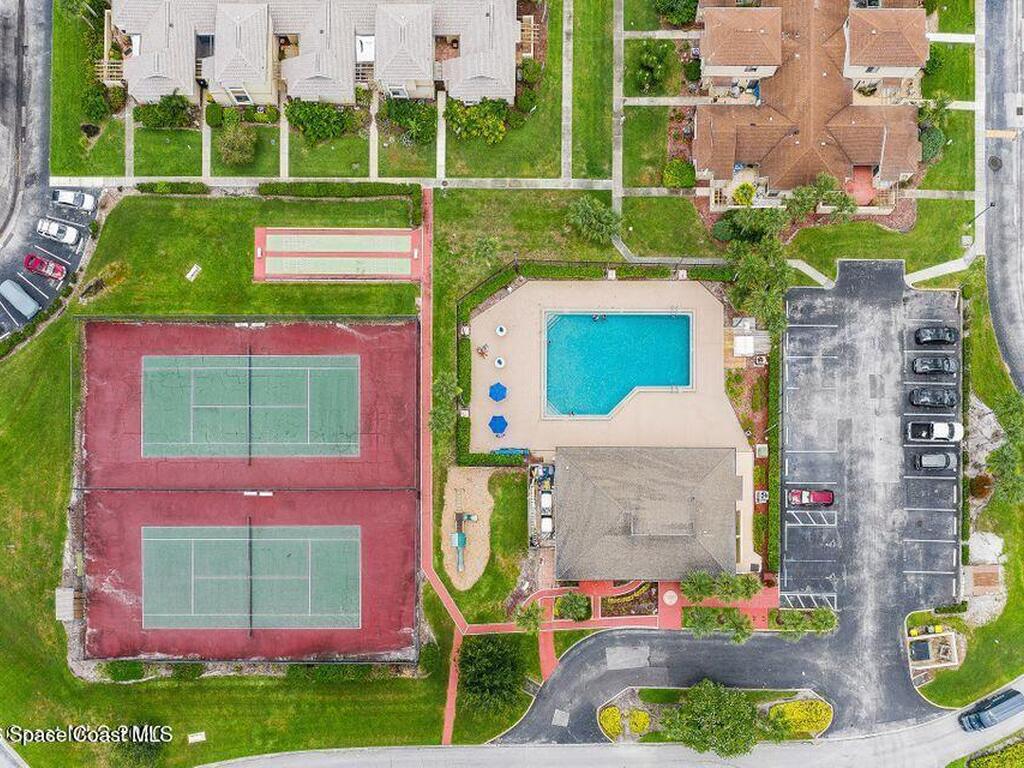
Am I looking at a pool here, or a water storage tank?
pool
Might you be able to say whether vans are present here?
Yes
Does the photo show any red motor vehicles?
Yes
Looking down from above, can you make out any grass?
Yes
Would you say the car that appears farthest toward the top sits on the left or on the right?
left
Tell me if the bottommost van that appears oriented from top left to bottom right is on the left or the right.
left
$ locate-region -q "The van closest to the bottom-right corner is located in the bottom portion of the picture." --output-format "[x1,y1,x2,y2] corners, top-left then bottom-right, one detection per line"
[960,688,1024,732]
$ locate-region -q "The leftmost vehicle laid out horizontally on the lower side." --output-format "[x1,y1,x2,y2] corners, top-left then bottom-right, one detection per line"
[786,488,832,507]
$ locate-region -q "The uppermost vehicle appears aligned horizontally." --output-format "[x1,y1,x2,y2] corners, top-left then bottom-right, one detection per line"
[52,190,99,213]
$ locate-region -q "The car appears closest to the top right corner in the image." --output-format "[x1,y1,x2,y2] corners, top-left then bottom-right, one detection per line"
[914,326,959,345]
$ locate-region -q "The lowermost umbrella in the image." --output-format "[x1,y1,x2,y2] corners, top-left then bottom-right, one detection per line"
[490,415,507,435]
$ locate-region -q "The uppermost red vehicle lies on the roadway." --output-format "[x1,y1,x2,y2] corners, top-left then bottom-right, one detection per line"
[23,253,70,280]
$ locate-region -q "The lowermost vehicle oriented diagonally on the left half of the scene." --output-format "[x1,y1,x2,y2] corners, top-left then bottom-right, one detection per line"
[0,276,42,322]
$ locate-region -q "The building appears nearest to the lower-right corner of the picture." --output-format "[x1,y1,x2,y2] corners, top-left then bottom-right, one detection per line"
[555,447,742,581]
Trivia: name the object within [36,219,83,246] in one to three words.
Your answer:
car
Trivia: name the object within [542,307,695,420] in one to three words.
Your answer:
swimming pool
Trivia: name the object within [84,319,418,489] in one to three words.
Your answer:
tennis court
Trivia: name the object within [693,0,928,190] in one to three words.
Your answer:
house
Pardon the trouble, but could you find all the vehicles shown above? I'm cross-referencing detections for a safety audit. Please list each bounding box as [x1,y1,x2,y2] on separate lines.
[907,421,964,442]
[541,490,552,513]
[960,688,1024,732]
[914,326,959,345]
[915,452,957,471]
[541,513,552,534]
[909,388,958,409]
[52,190,99,213]
[23,253,70,280]
[0,276,42,322]
[36,219,83,246]
[786,488,832,507]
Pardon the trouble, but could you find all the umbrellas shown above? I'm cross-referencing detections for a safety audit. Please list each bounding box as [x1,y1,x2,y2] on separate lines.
[490,415,507,435]
[489,382,507,402]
